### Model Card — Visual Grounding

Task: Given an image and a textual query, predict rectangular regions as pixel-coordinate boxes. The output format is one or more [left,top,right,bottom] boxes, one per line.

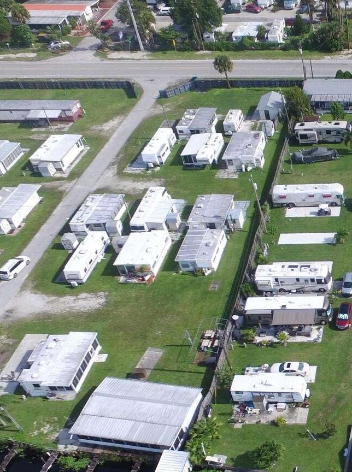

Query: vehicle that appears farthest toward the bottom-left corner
[0,257,34,281]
